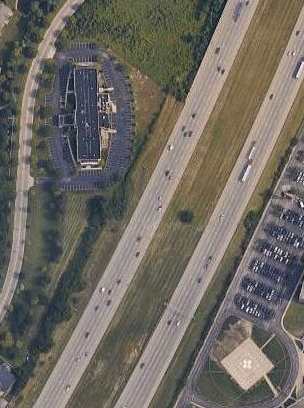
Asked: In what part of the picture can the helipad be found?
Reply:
bottom right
